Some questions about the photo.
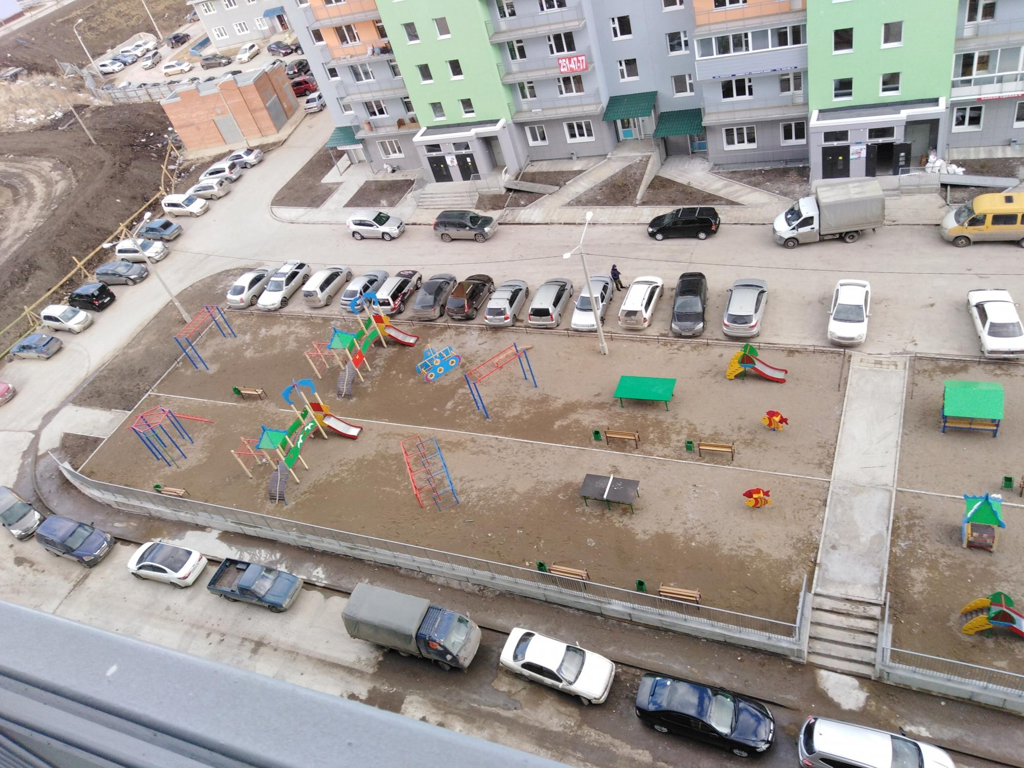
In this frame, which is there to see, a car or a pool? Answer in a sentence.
Looking from above, you can make out a car.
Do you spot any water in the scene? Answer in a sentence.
No, there is no water in the image.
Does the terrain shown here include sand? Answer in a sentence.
Yes, sand can be seen from above here.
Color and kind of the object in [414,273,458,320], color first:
gray car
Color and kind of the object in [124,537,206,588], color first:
white car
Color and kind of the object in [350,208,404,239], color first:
white car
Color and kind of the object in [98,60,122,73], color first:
white vehicle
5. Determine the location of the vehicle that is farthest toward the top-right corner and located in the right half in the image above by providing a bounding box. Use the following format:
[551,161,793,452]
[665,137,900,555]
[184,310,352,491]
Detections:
[940,188,1024,246]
